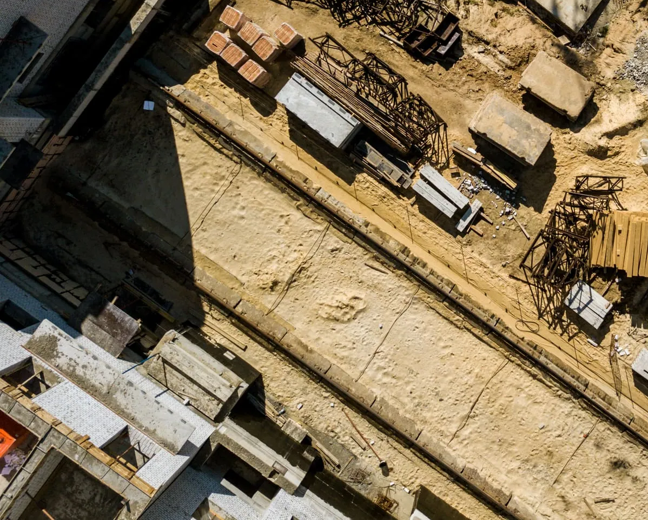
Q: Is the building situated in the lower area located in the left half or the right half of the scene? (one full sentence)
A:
The building situated in the lower area sits on the left side.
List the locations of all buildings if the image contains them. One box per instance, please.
[0,226,399,520]
[0,0,139,227]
